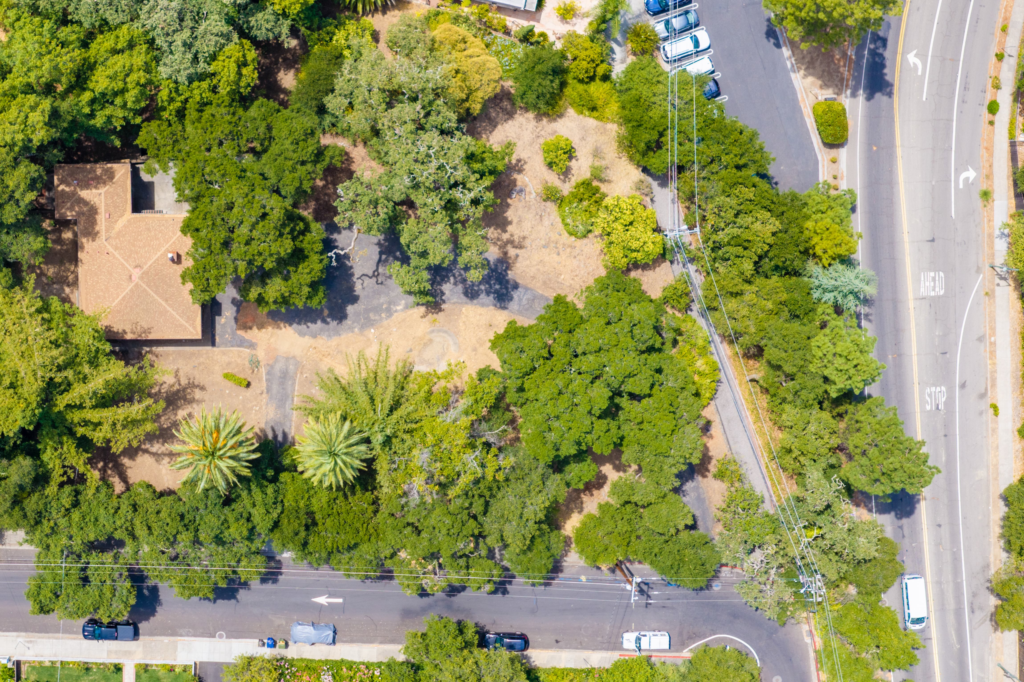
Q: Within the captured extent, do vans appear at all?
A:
Yes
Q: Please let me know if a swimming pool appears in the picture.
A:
No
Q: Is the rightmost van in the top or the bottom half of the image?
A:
bottom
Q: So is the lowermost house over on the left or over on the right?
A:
left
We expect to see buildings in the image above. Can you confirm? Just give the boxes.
[53,162,224,343]
[474,0,538,12]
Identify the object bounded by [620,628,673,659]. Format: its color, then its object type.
white truck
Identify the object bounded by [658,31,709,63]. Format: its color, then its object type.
white car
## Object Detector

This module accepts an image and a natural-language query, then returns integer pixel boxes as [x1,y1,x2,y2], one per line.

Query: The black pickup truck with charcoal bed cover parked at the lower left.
[82,618,137,644]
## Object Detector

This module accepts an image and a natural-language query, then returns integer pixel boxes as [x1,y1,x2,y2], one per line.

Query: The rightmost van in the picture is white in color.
[897,570,930,628]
